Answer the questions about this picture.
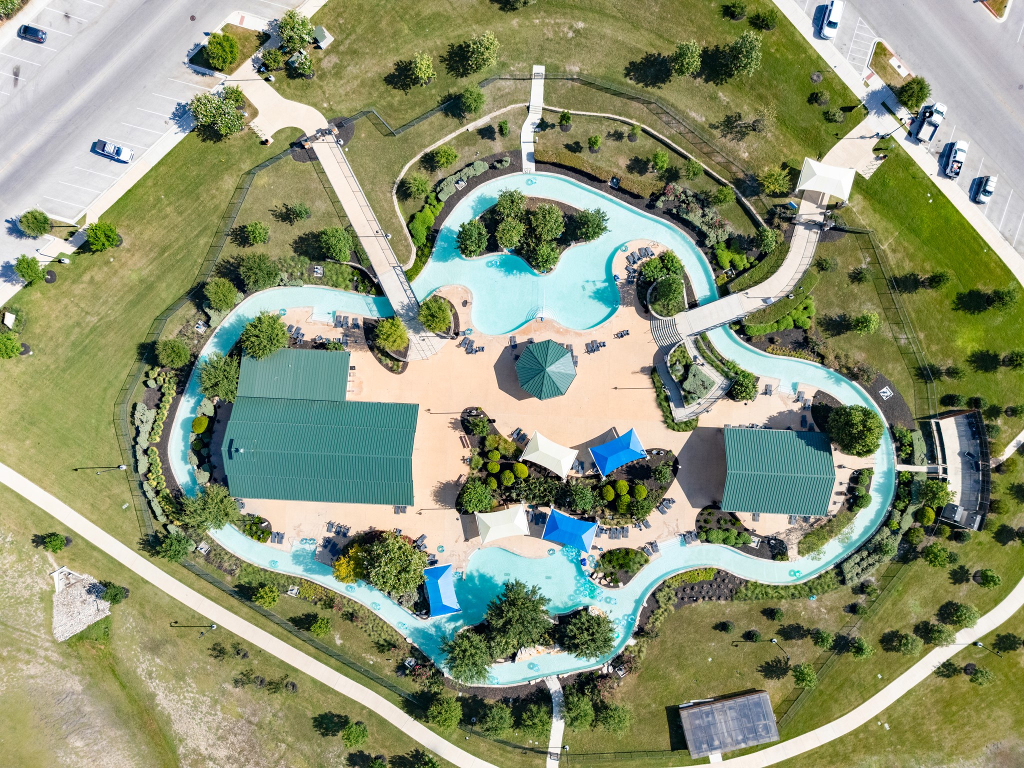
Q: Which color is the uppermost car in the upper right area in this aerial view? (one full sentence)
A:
The uppermost car in the upper right area looks white in the image.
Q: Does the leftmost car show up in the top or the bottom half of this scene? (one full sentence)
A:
The top half of the photo is where the leftmost car is.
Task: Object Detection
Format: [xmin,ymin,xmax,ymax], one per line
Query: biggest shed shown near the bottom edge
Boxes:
[676,685,780,759]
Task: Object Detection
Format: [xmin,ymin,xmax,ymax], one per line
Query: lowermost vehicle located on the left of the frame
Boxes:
[92,137,138,164]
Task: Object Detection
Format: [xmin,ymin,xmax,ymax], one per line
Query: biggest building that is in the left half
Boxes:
[221,349,419,506]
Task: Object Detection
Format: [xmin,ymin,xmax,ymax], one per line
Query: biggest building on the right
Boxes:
[721,427,836,516]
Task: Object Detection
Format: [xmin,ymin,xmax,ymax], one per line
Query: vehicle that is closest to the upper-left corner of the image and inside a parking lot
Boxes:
[16,23,52,46]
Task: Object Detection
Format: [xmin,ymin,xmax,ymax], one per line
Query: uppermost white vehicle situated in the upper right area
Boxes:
[819,0,845,42]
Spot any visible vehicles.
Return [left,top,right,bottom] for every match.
[16,23,52,46]
[943,138,970,182]
[819,0,845,42]
[92,137,138,164]
[914,100,948,145]
[972,171,999,208]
